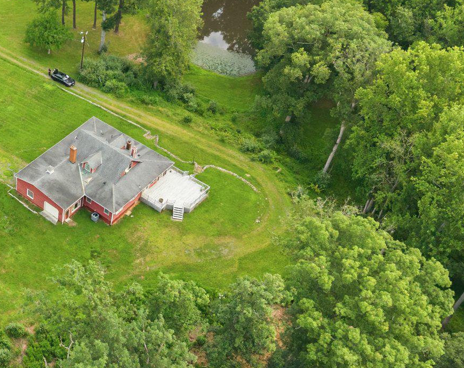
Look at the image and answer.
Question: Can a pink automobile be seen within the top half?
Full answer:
No, I can find no pink automobile within the top half.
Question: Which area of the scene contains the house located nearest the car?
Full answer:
Look in the left portion of the view to spot the house located nearest the car.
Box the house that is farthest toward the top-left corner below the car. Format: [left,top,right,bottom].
[11,116,175,228]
